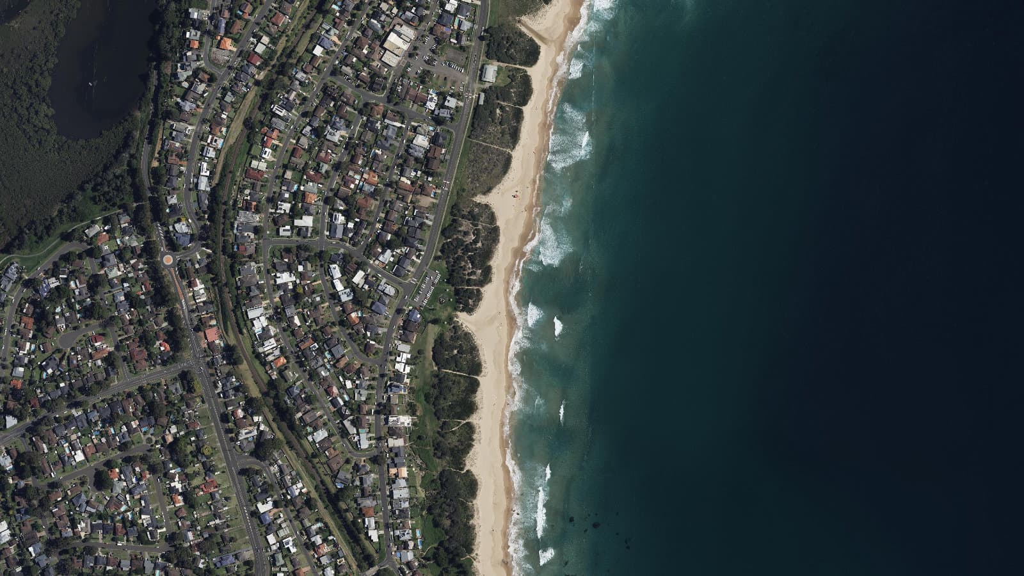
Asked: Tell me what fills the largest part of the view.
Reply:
water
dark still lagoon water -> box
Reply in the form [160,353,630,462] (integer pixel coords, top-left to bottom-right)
[50,0,155,139]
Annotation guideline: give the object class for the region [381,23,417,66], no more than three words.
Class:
building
